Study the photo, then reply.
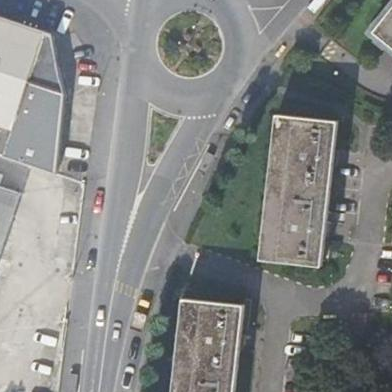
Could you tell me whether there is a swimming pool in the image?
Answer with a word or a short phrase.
No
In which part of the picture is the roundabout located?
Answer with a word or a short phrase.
top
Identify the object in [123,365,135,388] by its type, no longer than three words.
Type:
vehicle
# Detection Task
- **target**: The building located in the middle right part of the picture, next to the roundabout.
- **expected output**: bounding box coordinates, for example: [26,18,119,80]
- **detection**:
[258,111,341,266]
